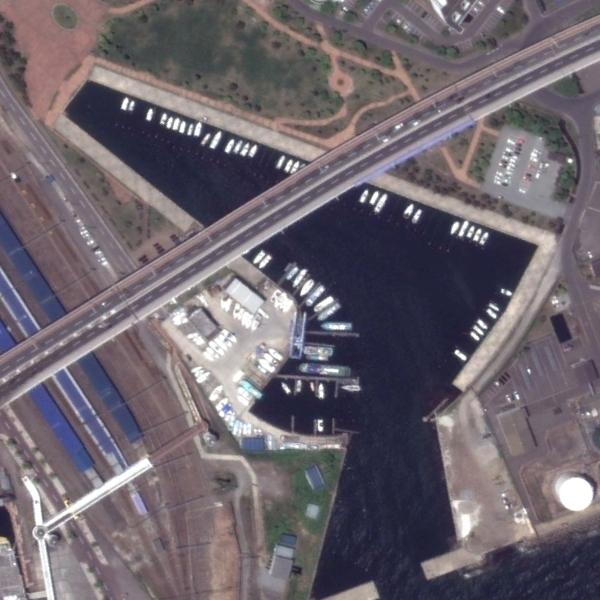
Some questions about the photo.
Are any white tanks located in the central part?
No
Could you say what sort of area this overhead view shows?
port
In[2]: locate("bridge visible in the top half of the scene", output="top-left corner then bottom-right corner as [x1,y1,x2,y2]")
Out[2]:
[0,14,600,406]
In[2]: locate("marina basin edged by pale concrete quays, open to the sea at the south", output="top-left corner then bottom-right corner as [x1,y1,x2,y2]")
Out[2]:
[56,67,561,600]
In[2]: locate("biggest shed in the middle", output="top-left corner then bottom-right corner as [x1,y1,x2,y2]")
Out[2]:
[225,276,264,315]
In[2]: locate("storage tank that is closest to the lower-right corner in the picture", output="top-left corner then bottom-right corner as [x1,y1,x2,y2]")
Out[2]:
[556,472,593,508]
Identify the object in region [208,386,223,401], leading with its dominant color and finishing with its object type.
white boat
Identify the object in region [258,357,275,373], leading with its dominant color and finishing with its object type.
white boat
